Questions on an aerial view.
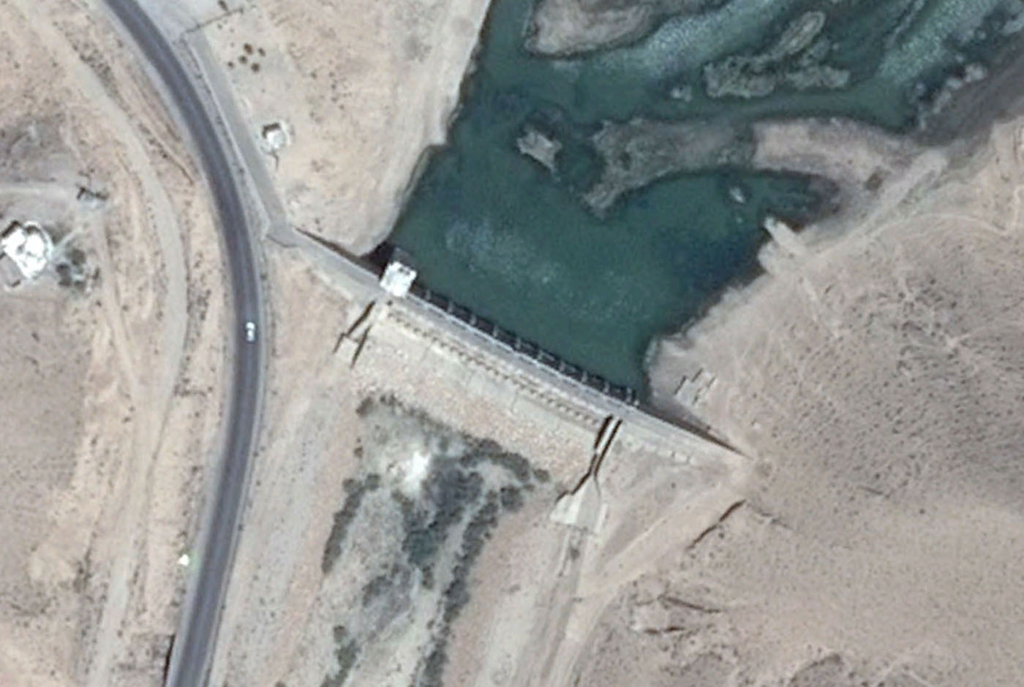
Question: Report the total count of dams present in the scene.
1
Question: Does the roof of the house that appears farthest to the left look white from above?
Yes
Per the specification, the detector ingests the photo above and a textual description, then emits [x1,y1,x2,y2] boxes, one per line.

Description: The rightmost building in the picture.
[381,248,418,297]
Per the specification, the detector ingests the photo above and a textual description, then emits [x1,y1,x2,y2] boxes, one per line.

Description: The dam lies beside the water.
[281,227,755,474]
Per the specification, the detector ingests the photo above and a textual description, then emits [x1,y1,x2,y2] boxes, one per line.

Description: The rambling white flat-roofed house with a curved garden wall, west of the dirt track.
[0,219,52,278]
